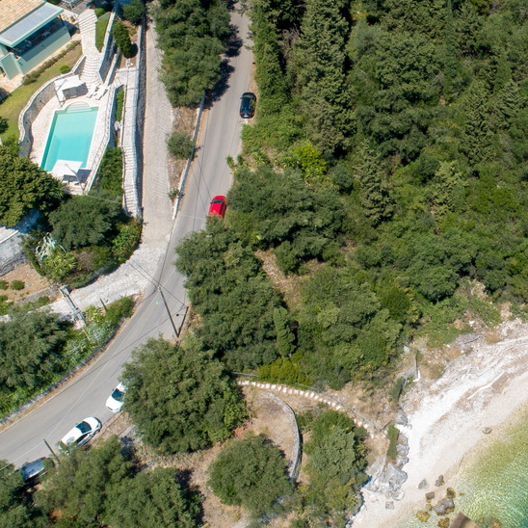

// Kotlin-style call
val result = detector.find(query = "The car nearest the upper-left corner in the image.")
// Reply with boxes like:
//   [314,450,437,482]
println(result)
[237,89,256,113]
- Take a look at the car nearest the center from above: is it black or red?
red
